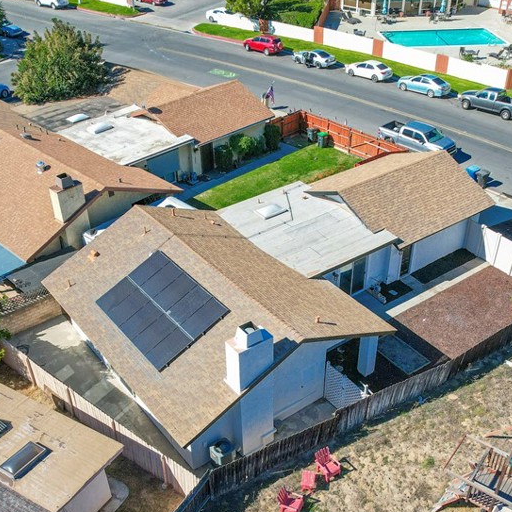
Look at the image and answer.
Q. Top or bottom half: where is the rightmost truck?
top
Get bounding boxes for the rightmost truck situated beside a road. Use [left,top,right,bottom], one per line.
[457,85,512,120]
